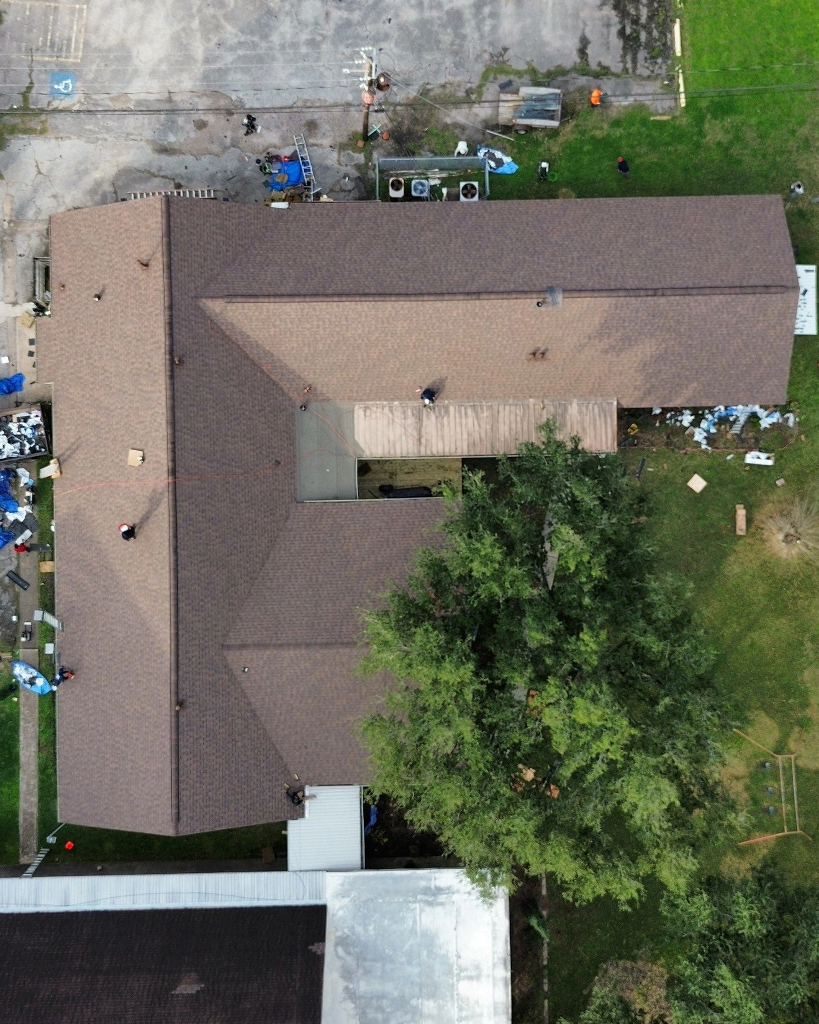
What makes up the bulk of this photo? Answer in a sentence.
The bulk of the photo consists of buildings.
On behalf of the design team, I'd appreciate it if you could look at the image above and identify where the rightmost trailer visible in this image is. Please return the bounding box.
[499,84,571,136]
